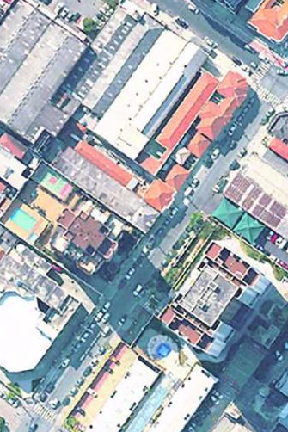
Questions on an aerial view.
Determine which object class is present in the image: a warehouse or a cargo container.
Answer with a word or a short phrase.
warehouse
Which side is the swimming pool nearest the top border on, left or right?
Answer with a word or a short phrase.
left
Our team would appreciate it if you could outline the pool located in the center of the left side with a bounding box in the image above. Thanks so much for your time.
[10,206,38,232]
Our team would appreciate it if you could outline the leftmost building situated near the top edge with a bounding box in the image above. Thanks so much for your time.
[0,0,99,136]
